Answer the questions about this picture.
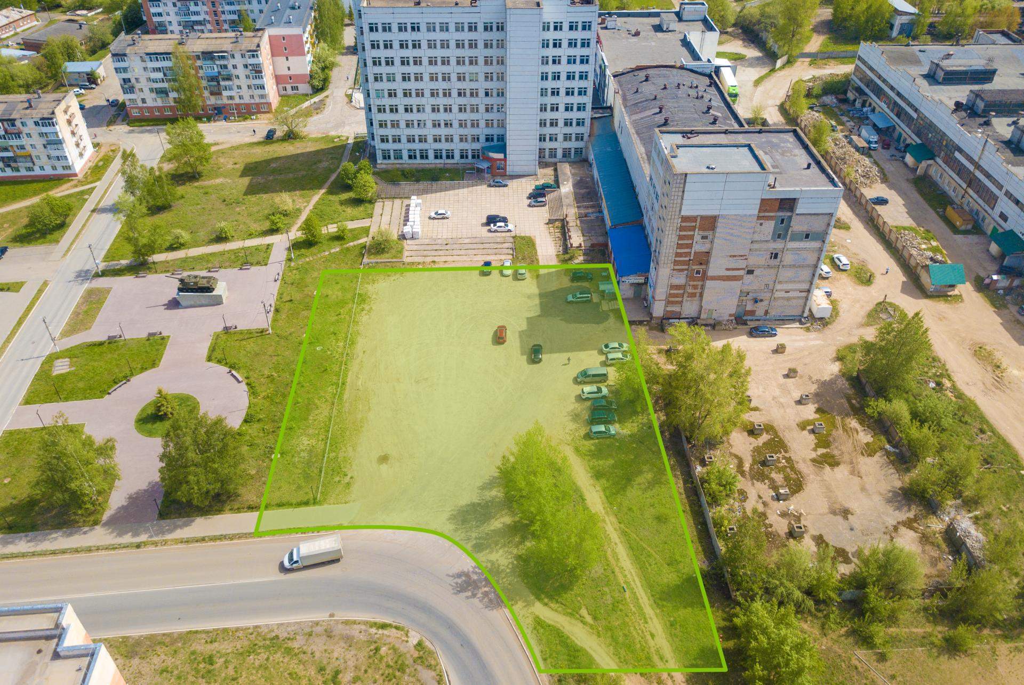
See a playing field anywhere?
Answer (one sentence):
No, I can see no playing field in this picture.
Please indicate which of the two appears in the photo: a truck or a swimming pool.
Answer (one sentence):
The one in the frame is a truck.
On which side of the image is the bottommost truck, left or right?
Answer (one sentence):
The bottommost truck appears in the left half of the scene.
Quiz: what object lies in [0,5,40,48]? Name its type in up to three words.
house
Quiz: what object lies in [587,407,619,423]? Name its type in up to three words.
car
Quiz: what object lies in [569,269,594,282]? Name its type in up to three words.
vehicle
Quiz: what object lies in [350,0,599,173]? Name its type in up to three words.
building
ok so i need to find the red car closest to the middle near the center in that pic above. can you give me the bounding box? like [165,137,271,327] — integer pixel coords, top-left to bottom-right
[495,327,507,344]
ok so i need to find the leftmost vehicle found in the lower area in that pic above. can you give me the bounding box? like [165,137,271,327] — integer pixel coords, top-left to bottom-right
[284,530,345,567]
